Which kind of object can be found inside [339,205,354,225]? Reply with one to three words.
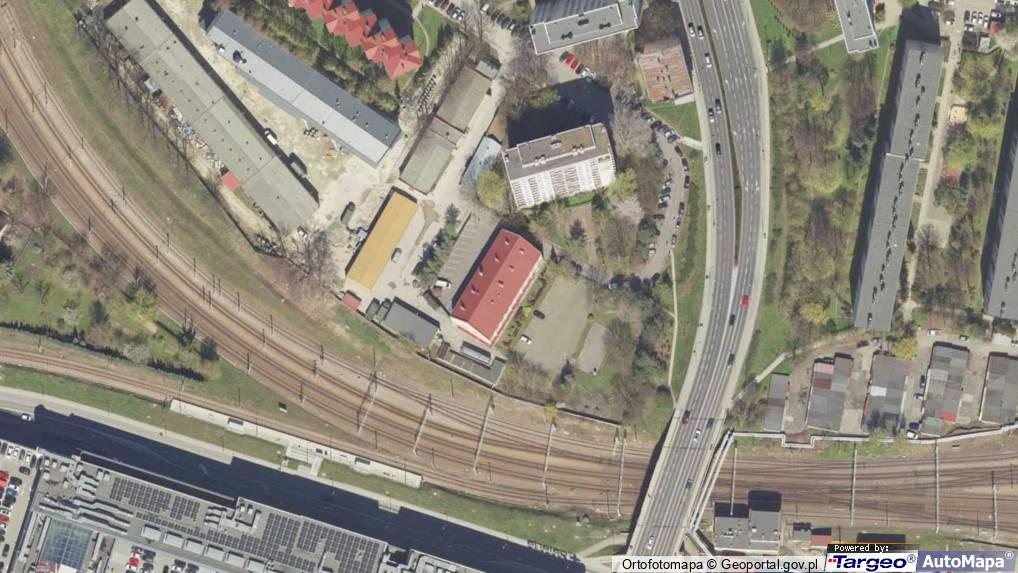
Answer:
vehicle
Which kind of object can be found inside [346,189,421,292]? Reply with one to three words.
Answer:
building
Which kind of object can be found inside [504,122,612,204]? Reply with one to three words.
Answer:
building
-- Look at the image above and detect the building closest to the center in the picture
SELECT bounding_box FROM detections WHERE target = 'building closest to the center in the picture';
[451,229,544,350]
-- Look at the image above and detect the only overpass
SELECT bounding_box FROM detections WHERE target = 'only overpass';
[620,0,773,573]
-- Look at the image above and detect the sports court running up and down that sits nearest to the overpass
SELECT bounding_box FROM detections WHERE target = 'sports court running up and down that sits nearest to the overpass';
[578,321,607,372]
